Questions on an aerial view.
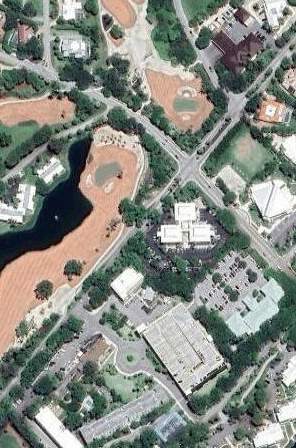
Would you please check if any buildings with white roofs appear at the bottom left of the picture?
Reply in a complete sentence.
Yes, you'll find a building with a white roof at the bottom left of the picture.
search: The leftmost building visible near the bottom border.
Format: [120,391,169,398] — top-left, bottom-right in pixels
[32,406,82,448]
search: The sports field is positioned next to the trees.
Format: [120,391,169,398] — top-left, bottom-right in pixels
[225,128,271,181]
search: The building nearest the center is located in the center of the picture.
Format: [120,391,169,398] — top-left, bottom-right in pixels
[160,224,183,244]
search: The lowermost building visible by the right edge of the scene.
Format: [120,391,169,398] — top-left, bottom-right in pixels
[254,419,287,448]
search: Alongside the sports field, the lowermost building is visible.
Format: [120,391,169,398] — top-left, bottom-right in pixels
[250,180,296,220]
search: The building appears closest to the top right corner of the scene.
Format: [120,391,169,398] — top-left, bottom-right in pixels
[262,0,289,28]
